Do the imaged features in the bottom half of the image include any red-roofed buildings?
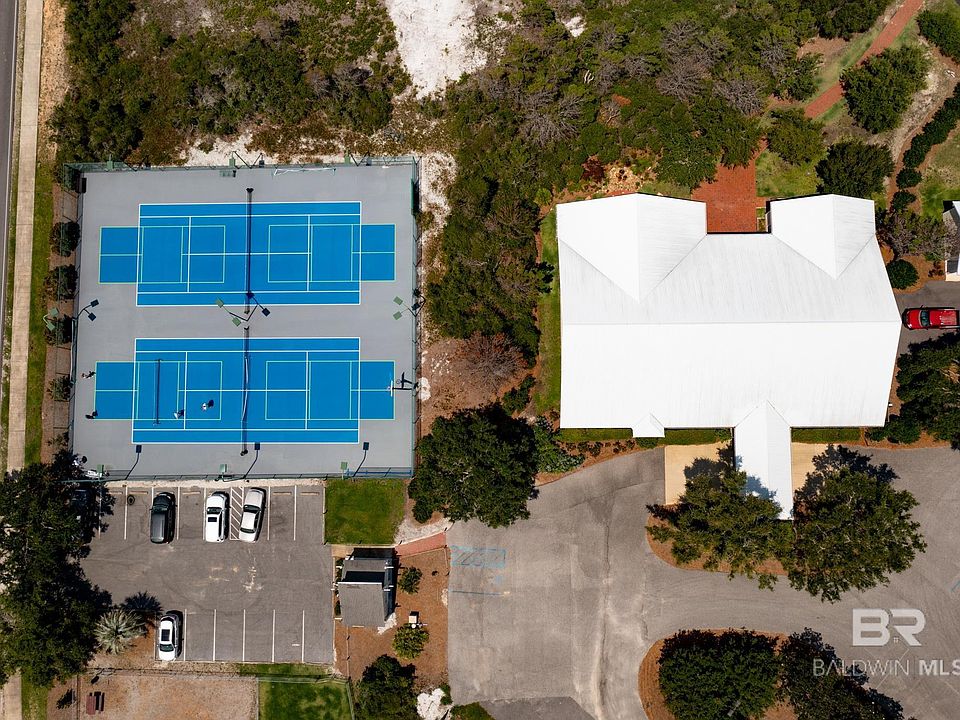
No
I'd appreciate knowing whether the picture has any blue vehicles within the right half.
No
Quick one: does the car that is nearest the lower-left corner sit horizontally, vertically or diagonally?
vertically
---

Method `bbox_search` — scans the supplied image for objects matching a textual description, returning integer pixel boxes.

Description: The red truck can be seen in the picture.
[899,308,959,330]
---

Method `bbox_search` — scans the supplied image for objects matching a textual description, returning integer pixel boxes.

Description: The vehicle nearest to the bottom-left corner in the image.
[157,613,180,659]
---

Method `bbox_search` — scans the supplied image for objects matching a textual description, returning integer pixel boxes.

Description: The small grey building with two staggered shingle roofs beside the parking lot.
[331,557,398,631]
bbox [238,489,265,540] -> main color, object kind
white car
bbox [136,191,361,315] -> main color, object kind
blue tennis court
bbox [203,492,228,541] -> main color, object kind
white car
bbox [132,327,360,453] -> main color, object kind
blue tennis court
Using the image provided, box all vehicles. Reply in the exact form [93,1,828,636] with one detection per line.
[203,492,228,541]
[157,613,180,659]
[238,489,265,540]
[150,493,173,542]
[899,308,959,330]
